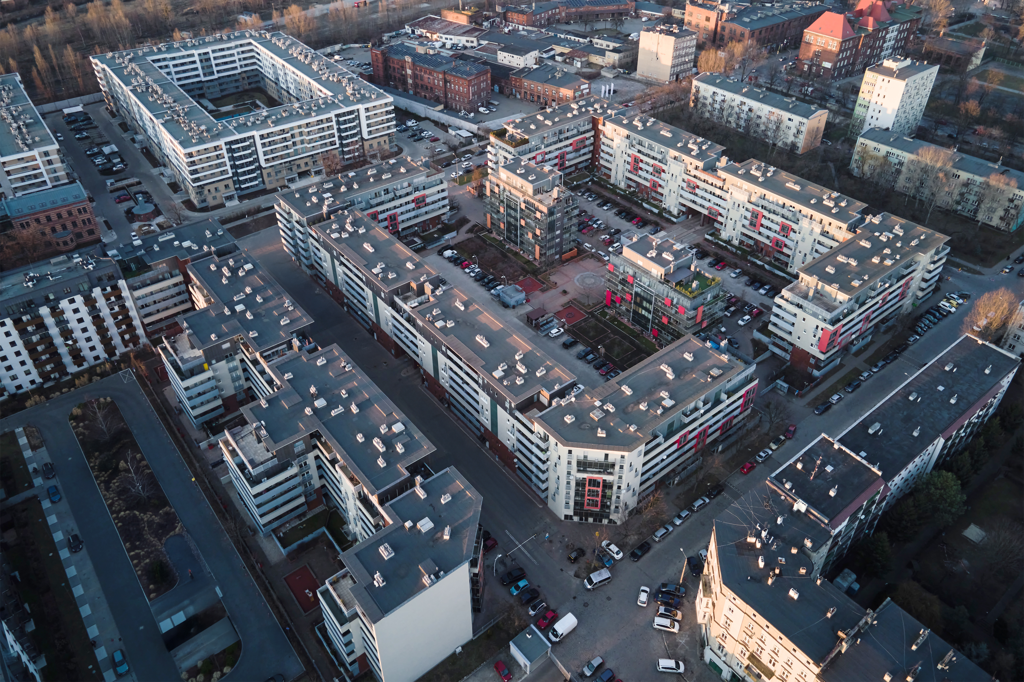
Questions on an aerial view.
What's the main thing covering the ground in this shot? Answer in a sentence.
Most of the picture is covered by buildings.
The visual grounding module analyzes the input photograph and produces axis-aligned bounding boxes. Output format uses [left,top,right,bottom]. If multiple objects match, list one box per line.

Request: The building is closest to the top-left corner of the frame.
[0,72,68,192]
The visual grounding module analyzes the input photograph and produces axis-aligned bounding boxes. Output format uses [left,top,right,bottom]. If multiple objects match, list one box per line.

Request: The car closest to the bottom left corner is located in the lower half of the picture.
[112,650,131,677]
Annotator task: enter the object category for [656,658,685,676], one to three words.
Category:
car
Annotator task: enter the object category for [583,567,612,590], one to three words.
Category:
vehicle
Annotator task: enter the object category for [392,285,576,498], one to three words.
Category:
building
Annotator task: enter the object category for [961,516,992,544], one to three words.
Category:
shed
